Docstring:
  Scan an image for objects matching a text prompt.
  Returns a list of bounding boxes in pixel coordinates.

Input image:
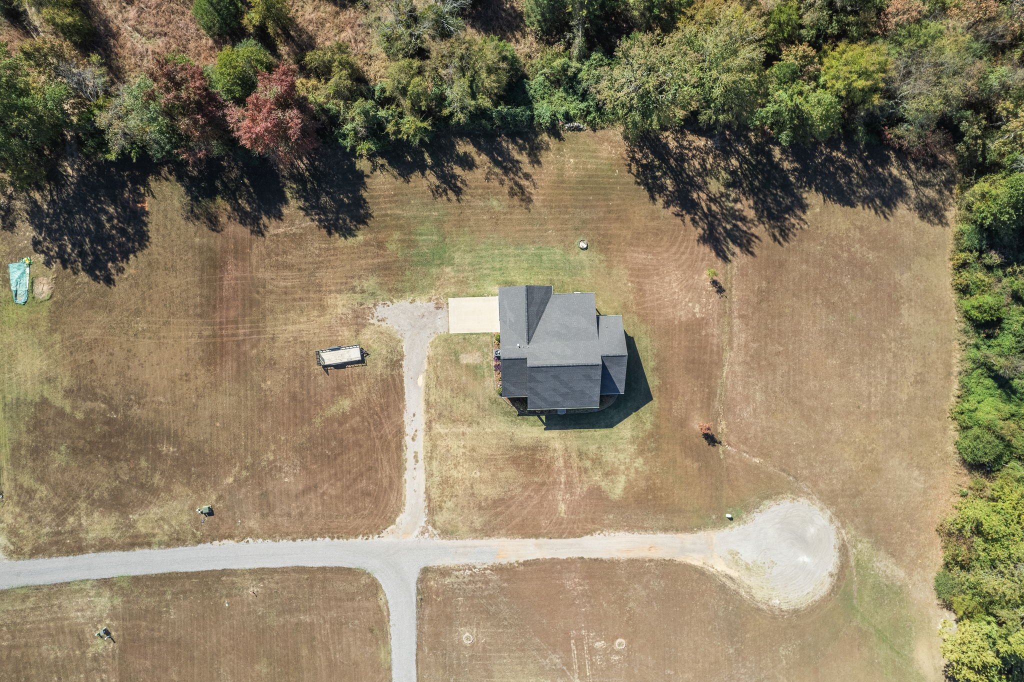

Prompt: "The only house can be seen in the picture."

[498,285,627,411]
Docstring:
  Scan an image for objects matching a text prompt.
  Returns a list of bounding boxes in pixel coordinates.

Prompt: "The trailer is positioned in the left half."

[315,345,372,367]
